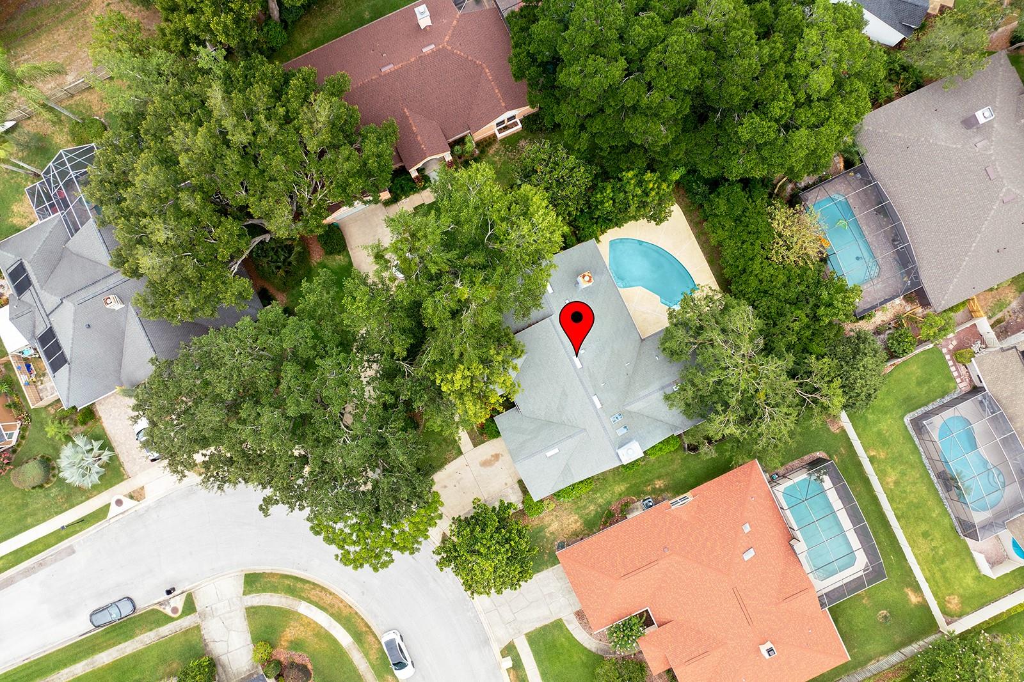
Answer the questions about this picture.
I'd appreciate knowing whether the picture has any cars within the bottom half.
Yes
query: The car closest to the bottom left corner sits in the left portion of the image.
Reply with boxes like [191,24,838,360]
[83,597,135,632]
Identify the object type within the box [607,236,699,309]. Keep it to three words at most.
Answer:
swimming pool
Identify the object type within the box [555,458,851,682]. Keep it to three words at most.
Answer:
house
